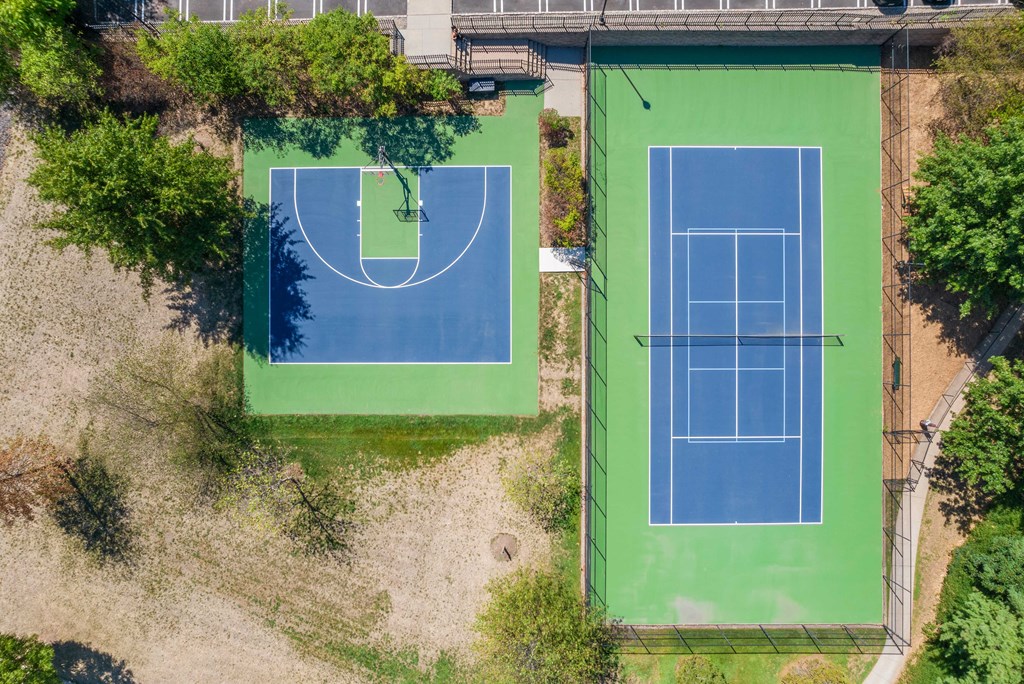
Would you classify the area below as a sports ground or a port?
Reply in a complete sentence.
It's a sports ground.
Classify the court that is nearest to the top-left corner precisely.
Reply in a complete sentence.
I'd say the court that is nearest to the top-left corner is a basketball court.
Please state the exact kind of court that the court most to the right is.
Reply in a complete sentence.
It looks like the court most to the right is a tennis court.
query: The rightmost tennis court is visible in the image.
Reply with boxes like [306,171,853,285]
[585,46,882,624]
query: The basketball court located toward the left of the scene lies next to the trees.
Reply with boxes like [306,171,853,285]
[243,82,545,415]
